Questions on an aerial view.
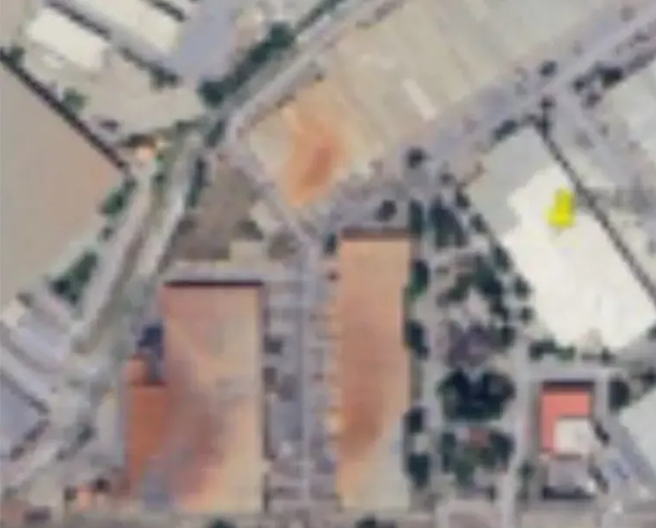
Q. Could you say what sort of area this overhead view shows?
industrial area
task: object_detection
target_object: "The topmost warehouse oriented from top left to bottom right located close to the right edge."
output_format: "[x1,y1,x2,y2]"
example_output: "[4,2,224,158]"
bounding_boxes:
[467,128,656,353]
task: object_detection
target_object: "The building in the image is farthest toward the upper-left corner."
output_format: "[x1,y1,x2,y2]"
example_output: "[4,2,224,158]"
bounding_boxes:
[24,2,111,69]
